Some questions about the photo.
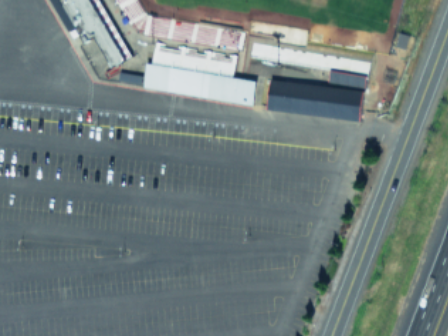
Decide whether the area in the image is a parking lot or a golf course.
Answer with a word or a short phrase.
parking lot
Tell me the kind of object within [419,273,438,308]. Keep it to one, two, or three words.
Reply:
vehicle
